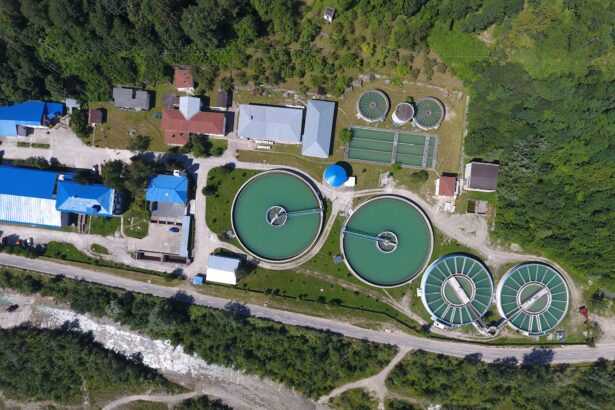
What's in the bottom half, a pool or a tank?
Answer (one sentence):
Looking in the bottom half, you will find a tank.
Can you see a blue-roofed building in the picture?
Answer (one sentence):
Yes, a blue-roofed building can be made out from above.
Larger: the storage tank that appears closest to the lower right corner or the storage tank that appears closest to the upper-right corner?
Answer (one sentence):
The larger object is the storage tank that appears closest to the lower right corner, with the storage tank that appears closest to the upper-right corner being the smaller of the pair.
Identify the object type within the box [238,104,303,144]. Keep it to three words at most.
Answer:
building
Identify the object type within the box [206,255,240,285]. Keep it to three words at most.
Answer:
shed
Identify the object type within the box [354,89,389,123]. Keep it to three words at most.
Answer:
storage tank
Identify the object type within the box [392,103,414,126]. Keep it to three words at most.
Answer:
silo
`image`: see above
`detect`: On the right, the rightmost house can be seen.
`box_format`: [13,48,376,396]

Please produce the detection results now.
[464,162,499,190]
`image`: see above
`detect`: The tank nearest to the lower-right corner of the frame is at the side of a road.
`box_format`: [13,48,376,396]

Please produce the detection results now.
[491,261,571,337]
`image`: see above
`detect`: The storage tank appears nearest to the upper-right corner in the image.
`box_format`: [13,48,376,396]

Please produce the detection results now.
[410,97,446,133]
